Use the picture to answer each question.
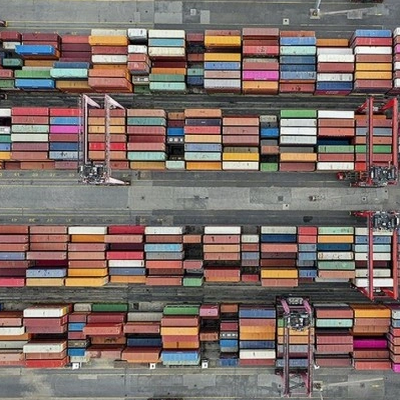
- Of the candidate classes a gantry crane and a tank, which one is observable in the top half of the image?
gantry crane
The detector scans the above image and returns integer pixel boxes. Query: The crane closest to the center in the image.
[78,92,134,185]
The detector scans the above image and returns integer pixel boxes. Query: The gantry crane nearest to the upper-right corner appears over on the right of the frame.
[348,95,399,186]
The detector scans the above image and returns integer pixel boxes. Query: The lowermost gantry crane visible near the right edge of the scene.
[348,209,400,301]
